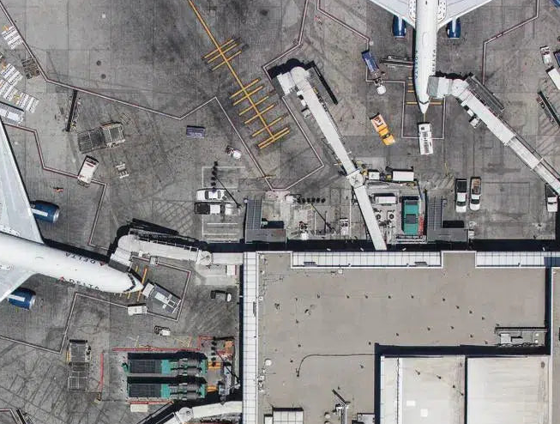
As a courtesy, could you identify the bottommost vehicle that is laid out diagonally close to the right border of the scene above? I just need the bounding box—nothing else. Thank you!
[536,91,560,128]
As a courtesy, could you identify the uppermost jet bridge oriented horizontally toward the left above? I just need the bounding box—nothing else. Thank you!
[106,224,243,272]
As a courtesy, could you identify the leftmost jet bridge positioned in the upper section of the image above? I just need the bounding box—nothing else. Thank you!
[269,66,394,251]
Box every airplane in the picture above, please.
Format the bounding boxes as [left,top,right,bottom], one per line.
[0,124,144,308]
[368,0,494,114]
